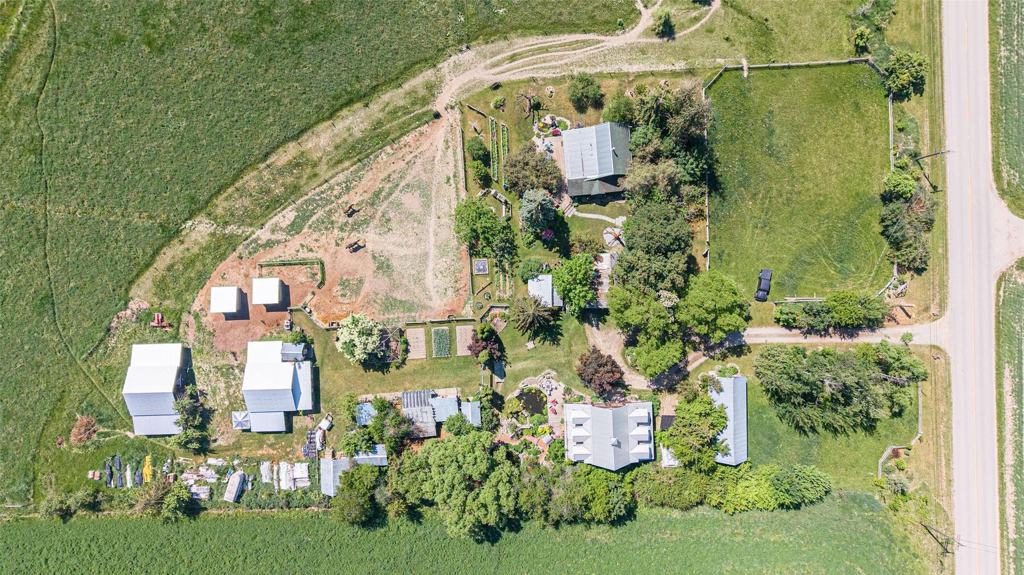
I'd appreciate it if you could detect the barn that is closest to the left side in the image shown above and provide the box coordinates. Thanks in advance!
[122,343,186,435]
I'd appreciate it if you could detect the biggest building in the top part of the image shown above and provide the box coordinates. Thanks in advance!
[561,121,633,198]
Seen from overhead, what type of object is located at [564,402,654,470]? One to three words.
house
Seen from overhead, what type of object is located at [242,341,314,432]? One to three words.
barn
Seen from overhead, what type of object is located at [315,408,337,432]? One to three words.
truck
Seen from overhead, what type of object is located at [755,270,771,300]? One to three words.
vehicle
